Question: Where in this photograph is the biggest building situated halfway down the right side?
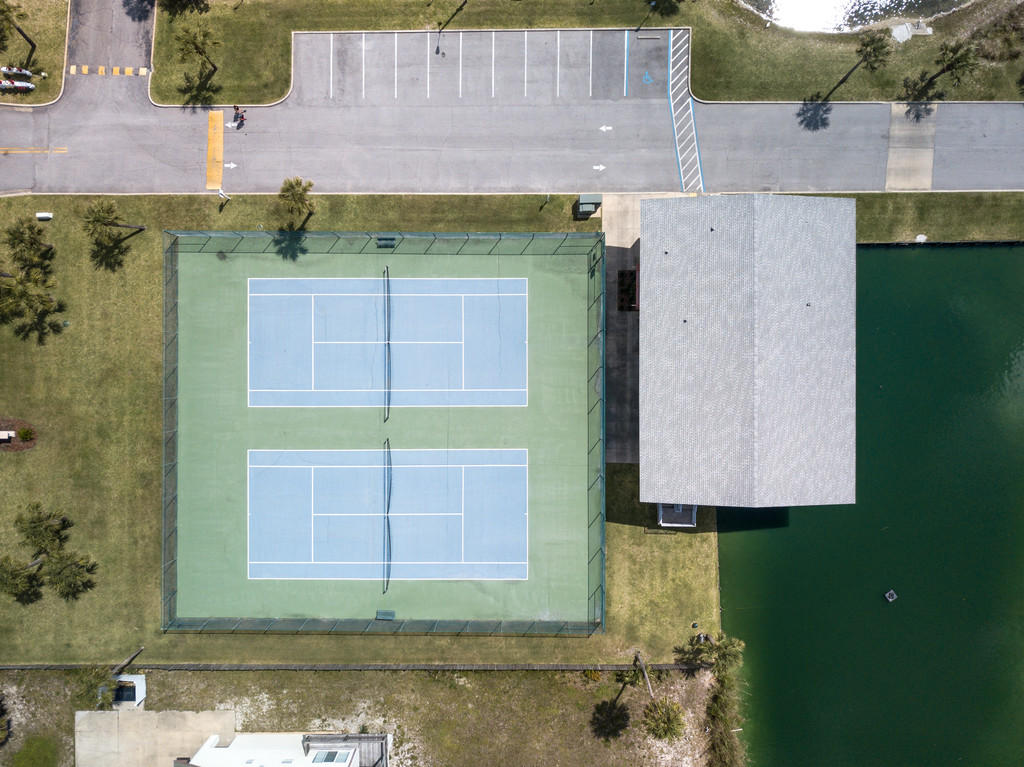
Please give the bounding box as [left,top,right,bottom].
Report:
[639,194,857,526]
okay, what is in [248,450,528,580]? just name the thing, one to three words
tennis court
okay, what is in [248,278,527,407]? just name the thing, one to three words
tennis court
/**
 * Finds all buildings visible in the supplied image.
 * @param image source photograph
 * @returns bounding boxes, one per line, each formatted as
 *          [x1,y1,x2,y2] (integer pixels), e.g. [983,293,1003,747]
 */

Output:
[182,736,362,767]
[639,194,857,526]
